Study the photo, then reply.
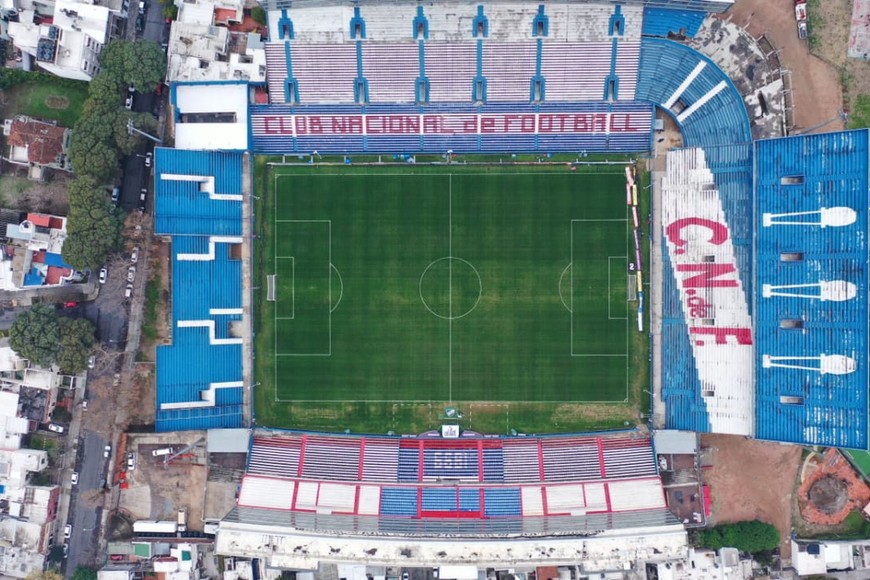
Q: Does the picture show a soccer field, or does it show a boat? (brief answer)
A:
soccer field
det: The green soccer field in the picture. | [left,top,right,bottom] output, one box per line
[250,156,656,440]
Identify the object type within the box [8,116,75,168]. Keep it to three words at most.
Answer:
house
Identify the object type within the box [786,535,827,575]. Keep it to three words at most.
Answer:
house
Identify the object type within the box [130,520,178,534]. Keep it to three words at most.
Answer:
trailer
